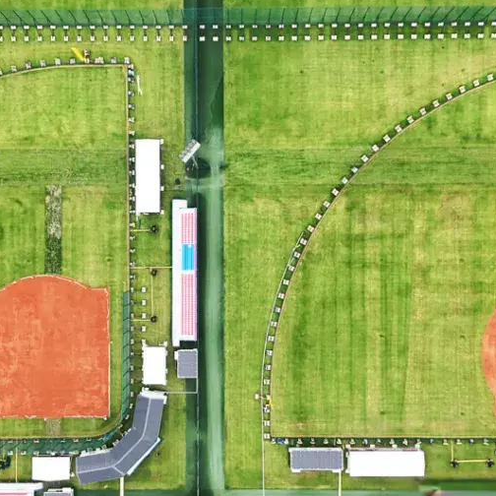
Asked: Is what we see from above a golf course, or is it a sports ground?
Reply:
sports ground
